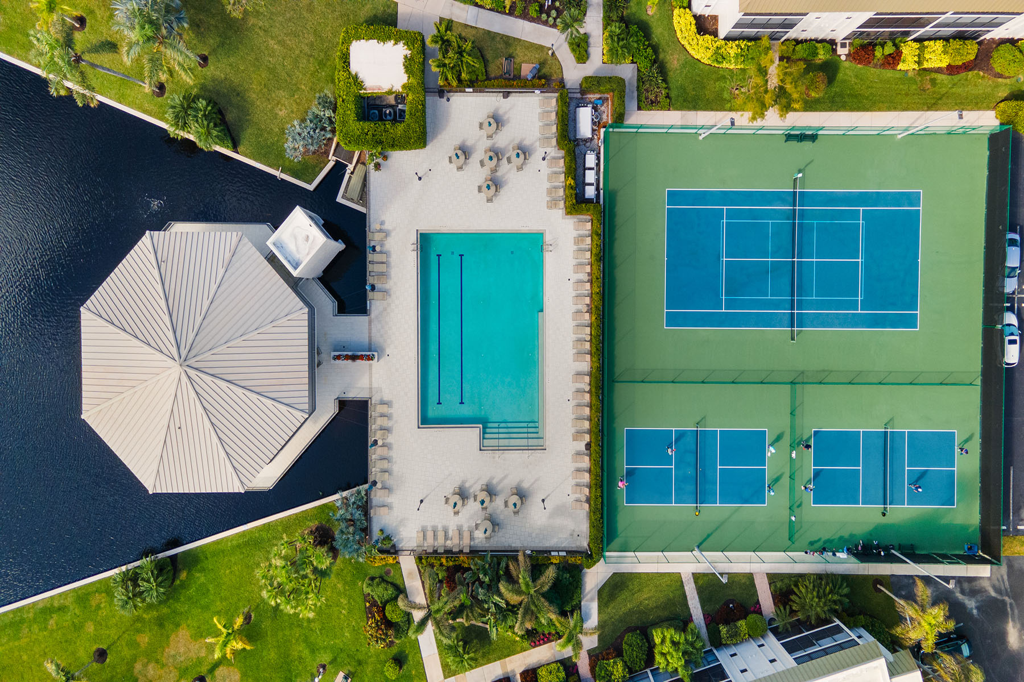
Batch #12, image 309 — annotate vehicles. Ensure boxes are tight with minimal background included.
[916,633,972,670]
[1006,311,1022,368]
[1007,232,1020,293]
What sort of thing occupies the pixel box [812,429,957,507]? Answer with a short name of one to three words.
sports court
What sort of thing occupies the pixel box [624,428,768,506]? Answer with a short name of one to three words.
sports court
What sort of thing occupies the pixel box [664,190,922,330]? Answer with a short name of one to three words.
tennis court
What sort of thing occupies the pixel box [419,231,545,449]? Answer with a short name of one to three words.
swimming pool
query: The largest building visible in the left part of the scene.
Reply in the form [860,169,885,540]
[80,222,370,495]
